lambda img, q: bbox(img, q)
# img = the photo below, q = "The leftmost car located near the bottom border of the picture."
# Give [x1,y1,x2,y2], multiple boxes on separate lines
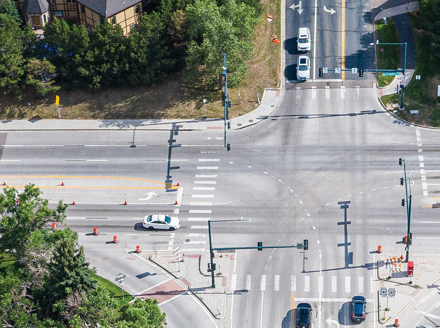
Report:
[295,303,314,328]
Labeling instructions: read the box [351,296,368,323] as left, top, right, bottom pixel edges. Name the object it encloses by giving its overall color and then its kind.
blue car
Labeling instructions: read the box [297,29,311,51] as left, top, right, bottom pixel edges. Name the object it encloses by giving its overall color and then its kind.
white car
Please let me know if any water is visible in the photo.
No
